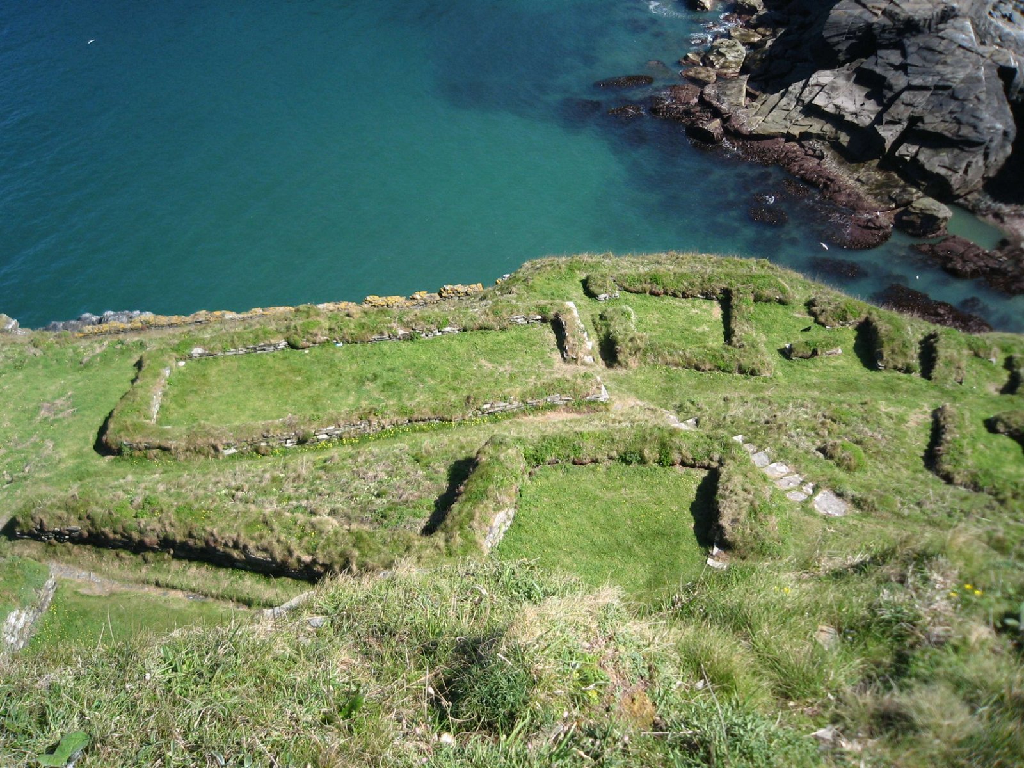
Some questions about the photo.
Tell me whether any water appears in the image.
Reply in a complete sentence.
Yes, water can be seen from above here.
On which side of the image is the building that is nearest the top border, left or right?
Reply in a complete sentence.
It is on the right.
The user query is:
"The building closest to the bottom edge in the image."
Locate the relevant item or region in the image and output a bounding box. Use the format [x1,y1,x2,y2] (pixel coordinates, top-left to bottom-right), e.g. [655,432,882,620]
[434,430,775,582]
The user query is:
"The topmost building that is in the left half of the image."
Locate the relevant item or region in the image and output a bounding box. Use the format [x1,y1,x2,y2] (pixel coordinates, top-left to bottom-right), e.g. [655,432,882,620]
[98,303,615,469]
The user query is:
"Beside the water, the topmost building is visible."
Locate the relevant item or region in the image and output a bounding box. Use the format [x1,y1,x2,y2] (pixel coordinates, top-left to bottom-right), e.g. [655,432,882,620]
[586,273,798,385]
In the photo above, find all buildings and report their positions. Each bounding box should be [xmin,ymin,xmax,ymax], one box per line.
[586,273,798,385]
[434,430,775,582]
[98,303,615,469]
